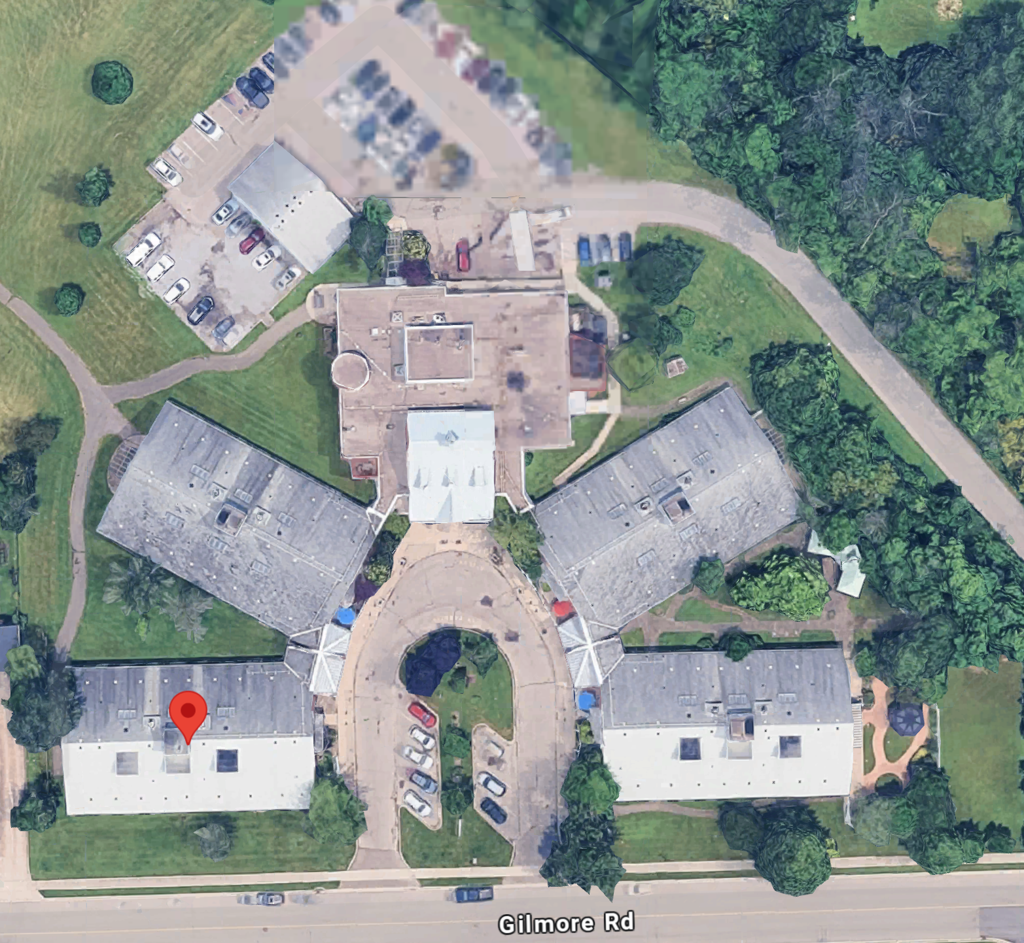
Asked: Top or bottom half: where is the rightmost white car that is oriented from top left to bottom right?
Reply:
bottom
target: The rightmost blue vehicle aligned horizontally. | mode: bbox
[454,886,493,903]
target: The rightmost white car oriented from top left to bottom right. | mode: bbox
[477,770,507,799]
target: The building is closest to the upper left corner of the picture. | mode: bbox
[229,140,356,274]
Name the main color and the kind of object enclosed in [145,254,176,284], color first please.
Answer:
white van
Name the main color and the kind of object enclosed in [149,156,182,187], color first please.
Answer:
white car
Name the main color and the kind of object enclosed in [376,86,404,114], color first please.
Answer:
gray car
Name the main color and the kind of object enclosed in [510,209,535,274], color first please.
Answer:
white trailer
